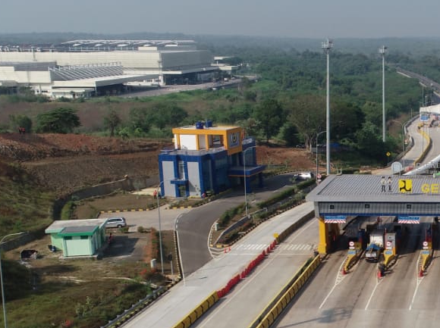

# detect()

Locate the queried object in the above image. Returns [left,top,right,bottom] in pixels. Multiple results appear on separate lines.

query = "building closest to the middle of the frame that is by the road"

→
[152,122,264,197]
